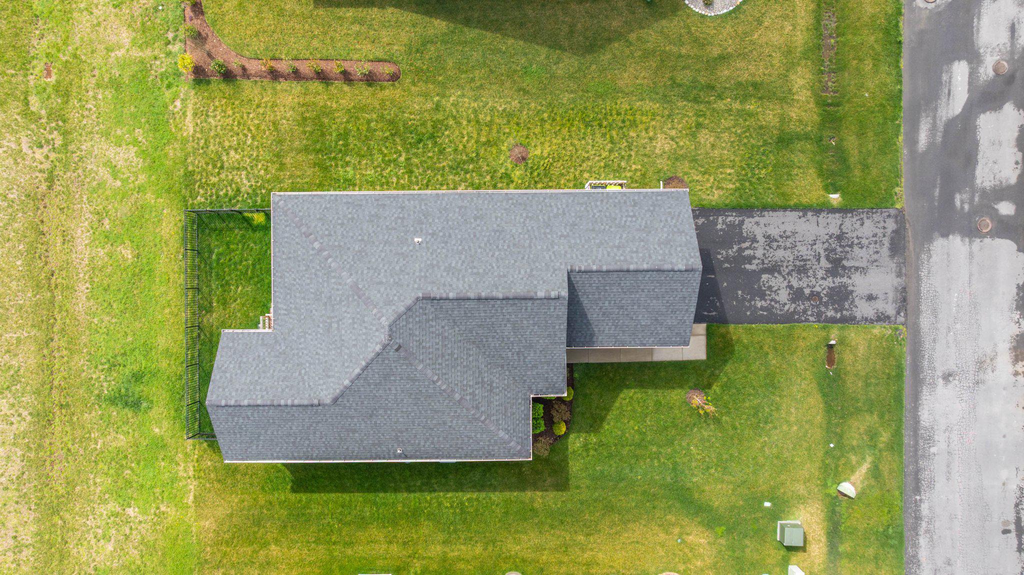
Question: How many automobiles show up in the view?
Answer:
0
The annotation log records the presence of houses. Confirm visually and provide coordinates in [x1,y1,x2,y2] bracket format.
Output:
[207,181,700,462]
